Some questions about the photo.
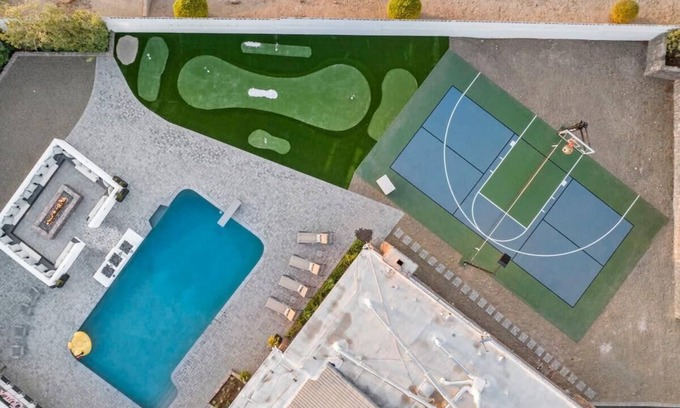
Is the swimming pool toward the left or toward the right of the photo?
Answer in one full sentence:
You can find the swimming pool on the left side of the picture.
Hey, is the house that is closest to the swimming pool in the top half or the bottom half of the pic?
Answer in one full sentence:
Seen from above, the house that is closest to the swimming pool lies in the bottom half of the view.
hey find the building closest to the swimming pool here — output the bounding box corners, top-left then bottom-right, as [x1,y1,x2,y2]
[229,243,591,408]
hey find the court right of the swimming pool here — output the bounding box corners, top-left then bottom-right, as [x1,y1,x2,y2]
[355,51,668,343]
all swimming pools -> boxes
[72,185,268,408]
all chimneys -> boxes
[375,238,418,273]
